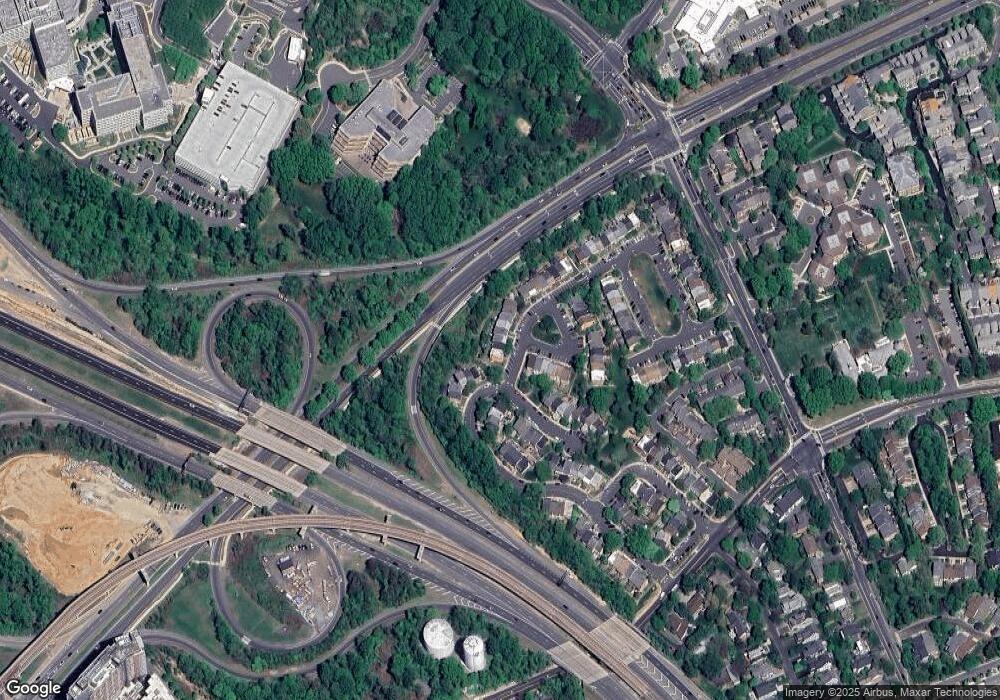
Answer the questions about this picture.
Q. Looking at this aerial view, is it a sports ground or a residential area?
residential area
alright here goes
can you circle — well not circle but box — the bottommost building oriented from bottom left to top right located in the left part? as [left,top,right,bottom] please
[62,630,148,700]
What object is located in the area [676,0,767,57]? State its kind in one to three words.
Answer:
building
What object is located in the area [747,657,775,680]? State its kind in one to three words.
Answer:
house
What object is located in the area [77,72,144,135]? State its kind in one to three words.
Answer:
building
